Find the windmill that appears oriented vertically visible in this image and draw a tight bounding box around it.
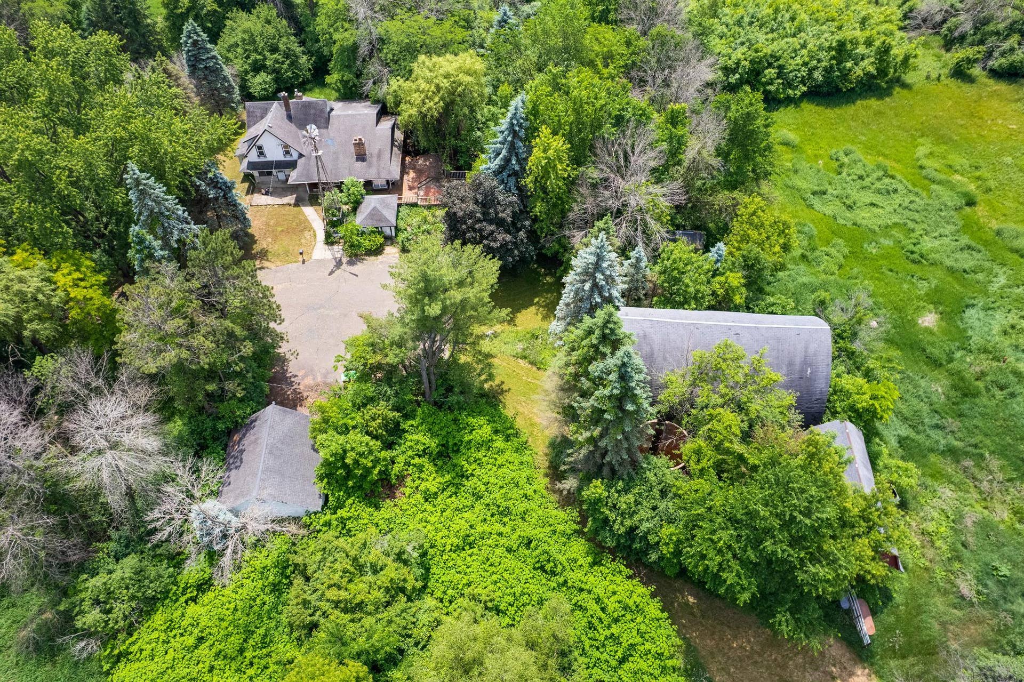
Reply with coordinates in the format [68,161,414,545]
[299,123,347,240]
